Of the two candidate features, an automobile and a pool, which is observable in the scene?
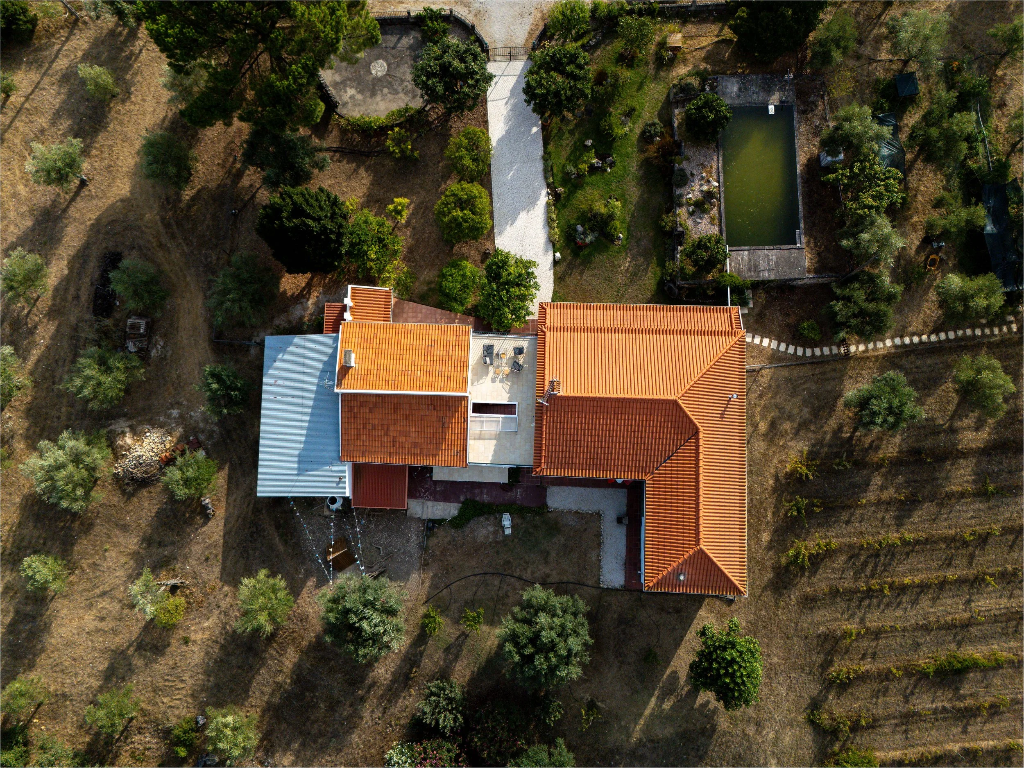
pool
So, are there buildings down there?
Yes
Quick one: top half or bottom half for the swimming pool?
top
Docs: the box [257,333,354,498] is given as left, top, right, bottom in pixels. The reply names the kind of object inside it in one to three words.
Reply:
shed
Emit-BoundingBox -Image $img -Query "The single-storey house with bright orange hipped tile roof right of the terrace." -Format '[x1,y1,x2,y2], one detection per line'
[533,301,750,603]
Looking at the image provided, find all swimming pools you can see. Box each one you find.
[715,76,806,283]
